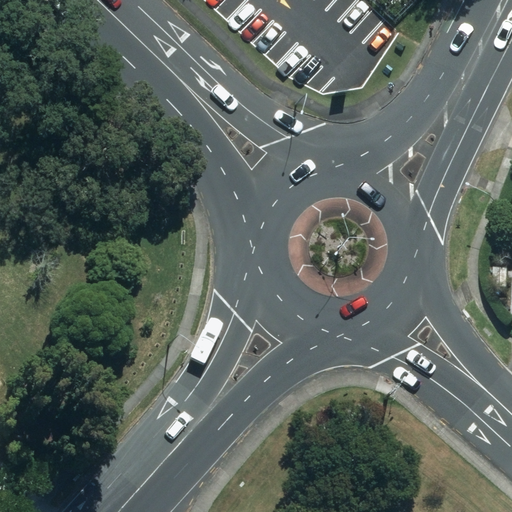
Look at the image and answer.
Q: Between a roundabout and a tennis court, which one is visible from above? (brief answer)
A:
roundabout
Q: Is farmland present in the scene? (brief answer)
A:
No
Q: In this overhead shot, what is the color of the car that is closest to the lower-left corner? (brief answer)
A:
white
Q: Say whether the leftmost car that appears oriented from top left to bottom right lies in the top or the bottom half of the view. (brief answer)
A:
top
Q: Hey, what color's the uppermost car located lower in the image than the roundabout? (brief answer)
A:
red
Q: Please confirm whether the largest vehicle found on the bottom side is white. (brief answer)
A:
Yes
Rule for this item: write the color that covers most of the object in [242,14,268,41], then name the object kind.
red car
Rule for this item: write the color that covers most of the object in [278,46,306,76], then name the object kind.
white car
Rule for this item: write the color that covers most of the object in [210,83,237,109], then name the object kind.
white car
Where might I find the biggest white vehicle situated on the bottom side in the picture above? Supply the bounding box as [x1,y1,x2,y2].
[188,318,223,366]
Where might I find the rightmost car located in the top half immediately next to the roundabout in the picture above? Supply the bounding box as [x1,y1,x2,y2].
[357,182,384,208]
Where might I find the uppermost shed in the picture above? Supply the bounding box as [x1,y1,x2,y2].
[492,266,508,288]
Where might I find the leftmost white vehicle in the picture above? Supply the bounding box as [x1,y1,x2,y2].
[165,412,192,441]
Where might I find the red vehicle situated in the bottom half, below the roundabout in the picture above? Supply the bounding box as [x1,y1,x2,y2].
[340,296,367,319]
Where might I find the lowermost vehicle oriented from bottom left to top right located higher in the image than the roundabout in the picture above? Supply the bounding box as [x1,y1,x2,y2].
[289,160,316,184]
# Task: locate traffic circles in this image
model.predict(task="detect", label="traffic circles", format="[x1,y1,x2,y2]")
[290,198,387,296]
